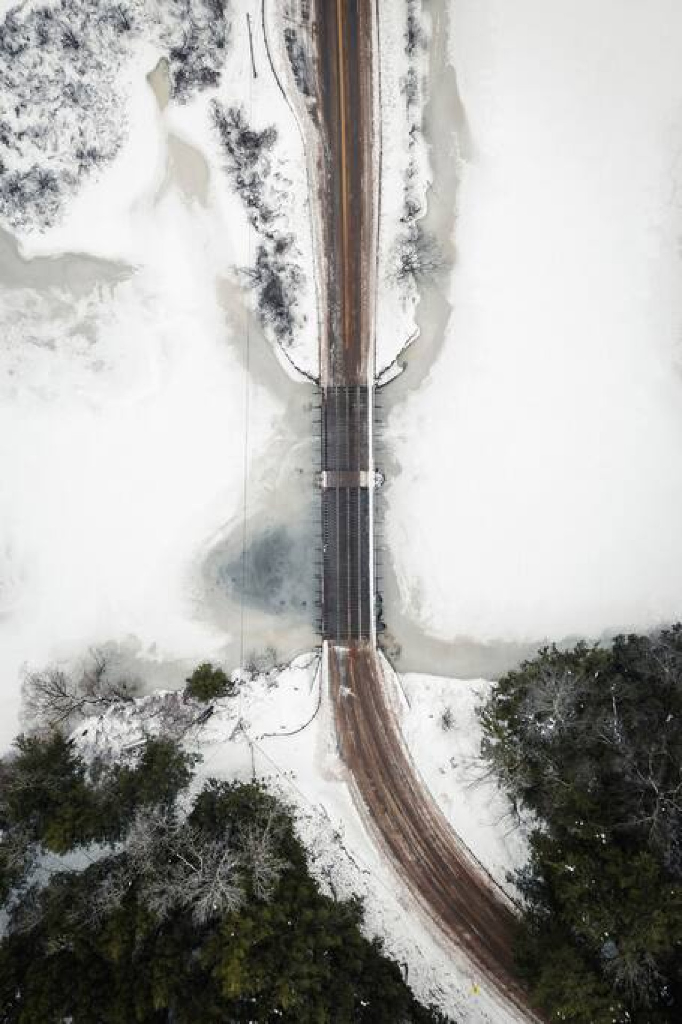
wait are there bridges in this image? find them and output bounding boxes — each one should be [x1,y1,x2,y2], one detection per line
[312,382,384,646]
